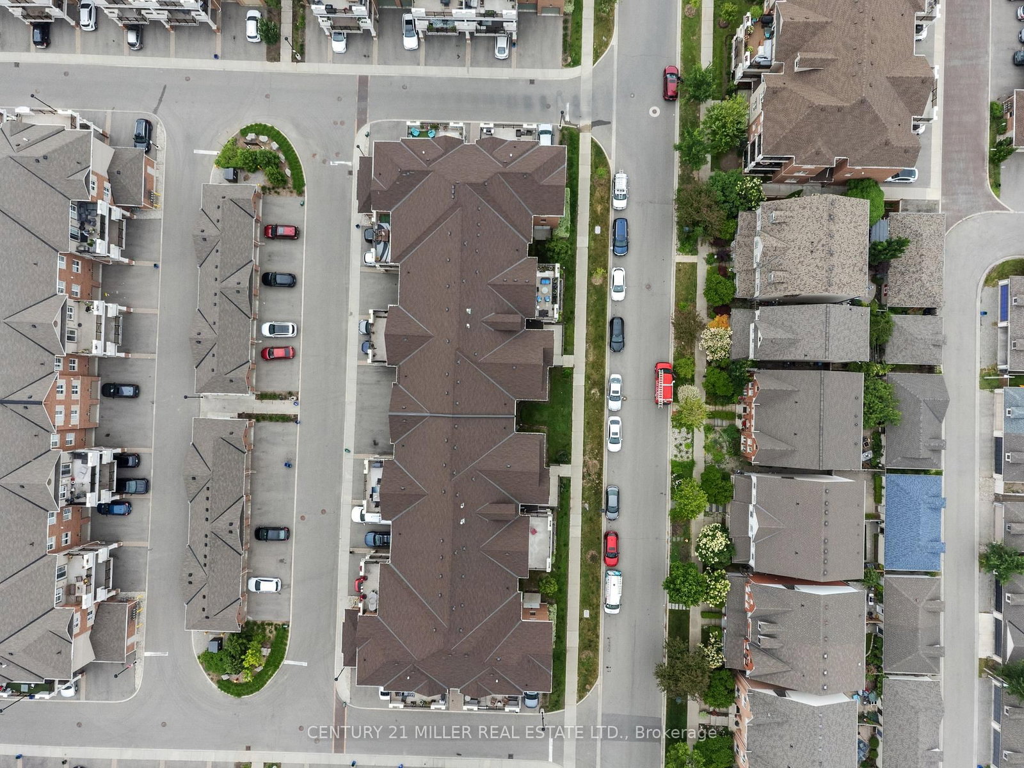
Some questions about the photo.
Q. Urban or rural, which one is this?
urban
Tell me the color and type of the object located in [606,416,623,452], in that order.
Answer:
white car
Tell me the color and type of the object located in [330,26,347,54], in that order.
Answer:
white car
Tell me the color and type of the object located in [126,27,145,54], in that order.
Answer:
gray car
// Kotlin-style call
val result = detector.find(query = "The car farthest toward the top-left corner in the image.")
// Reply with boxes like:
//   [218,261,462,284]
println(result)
[31,27,53,56]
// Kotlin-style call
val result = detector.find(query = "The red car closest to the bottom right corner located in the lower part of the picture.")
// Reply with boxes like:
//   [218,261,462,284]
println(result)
[604,531,621,567]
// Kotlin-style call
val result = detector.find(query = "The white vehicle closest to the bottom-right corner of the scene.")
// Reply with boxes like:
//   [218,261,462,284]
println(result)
[605,569,624,615]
